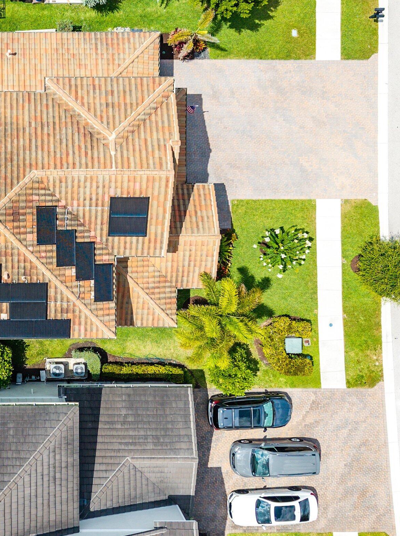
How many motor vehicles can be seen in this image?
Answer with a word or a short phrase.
3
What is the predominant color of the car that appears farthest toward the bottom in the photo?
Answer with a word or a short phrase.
white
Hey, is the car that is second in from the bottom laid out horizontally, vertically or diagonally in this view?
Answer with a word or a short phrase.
horizontally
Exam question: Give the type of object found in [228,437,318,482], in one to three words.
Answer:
car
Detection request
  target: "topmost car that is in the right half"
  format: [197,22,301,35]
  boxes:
[207,393,292,434]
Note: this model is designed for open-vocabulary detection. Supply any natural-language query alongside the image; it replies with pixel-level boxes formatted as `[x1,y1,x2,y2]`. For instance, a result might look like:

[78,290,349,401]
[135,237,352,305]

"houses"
[0,30,222,342]
[0,382,203,536]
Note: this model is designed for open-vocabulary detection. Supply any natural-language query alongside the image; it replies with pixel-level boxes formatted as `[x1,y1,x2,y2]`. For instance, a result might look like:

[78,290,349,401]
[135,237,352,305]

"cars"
[226,487,315,532]
[228,437,318,482]
[207,393,292,434]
